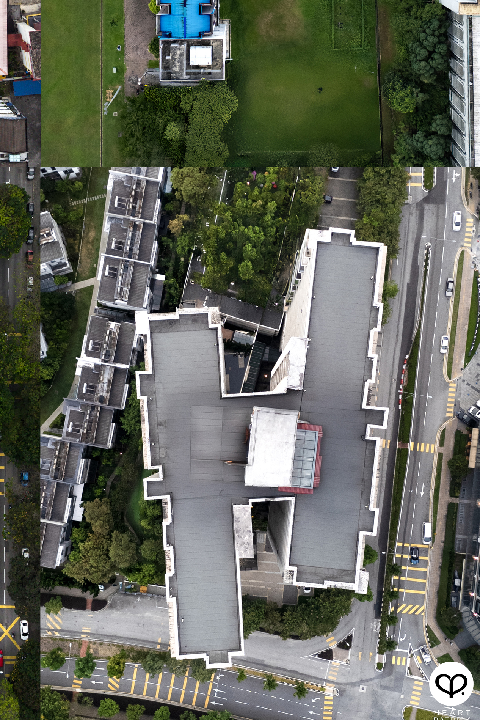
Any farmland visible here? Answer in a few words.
No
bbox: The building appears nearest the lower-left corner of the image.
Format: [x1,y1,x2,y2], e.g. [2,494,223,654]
[40,519,63,568]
